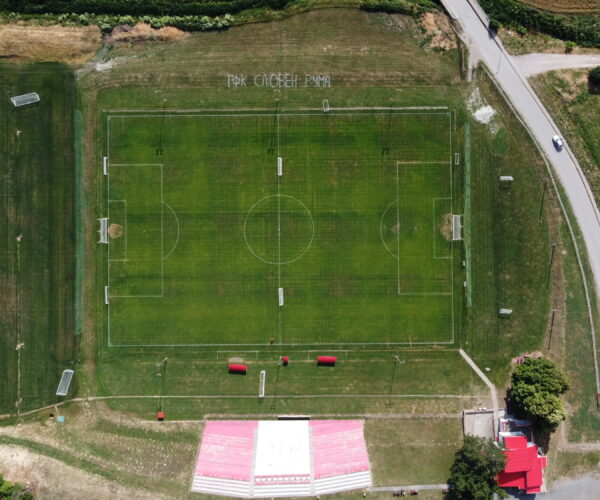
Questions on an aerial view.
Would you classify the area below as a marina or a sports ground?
sports ground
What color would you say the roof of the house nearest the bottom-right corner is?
red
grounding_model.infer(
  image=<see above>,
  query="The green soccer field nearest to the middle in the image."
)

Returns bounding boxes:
[107,112,455,360]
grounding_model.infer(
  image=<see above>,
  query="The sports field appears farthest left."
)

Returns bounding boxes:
[0,66,76,398]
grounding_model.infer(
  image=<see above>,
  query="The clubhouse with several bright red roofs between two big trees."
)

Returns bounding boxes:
[497,417,547,495]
